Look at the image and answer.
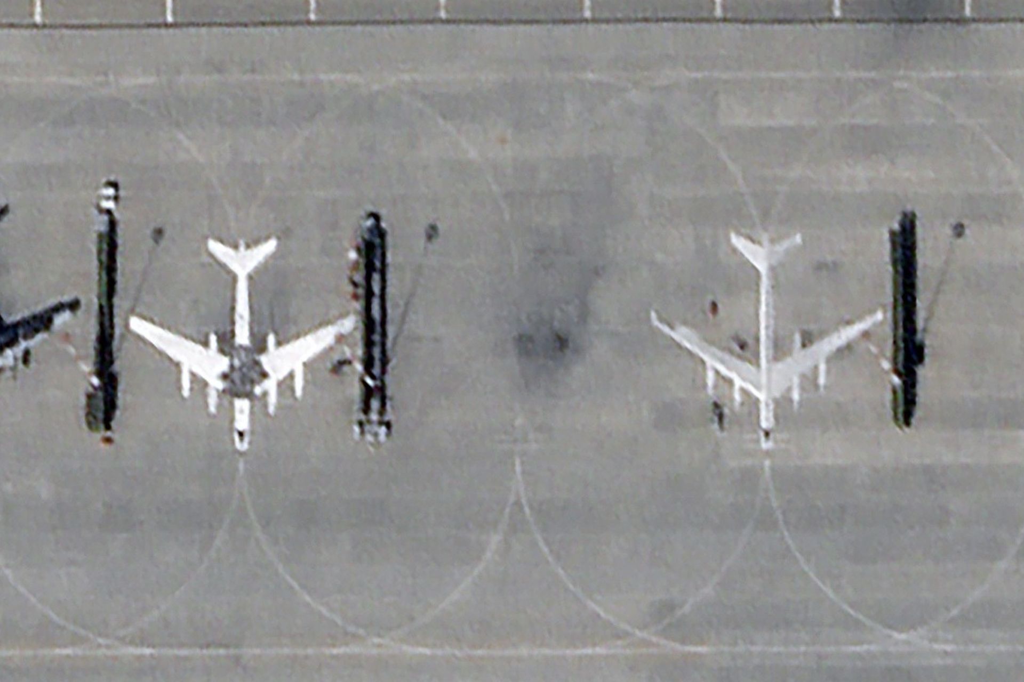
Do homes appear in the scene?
No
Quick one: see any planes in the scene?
Yes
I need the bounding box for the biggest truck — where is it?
[85,392,106,435]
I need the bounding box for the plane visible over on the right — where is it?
[651,232,883,449]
